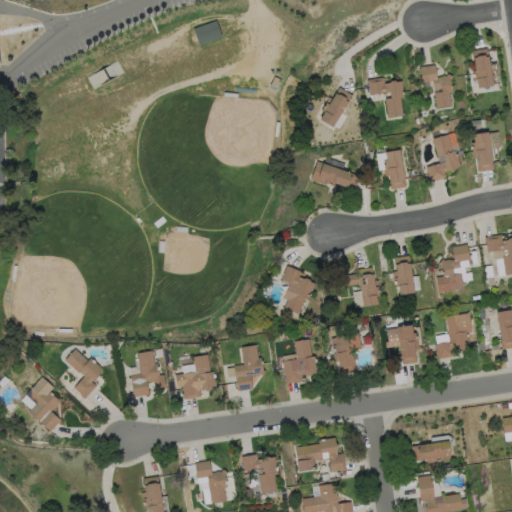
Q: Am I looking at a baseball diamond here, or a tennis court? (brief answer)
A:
baseball diamond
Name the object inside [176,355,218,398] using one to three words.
house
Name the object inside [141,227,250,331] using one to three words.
baseball field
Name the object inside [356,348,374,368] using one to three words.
swimming pool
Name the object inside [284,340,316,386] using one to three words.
house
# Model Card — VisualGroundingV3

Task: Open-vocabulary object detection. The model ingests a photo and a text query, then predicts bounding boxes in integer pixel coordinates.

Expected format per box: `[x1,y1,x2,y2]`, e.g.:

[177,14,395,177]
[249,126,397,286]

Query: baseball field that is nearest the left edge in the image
[4,190,154,332]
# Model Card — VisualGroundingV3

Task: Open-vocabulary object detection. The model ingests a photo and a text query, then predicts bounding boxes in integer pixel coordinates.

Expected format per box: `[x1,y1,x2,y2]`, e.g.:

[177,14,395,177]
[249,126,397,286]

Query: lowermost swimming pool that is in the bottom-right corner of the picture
[444,475,466,487]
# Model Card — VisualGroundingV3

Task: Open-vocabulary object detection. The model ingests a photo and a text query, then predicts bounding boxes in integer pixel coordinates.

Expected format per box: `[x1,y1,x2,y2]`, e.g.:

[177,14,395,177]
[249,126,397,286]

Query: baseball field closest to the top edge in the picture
[137,94,276,231]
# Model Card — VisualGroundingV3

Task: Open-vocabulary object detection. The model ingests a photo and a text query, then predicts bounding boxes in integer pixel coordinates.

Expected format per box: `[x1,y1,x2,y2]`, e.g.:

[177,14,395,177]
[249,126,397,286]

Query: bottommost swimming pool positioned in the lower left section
[0,386,20,406]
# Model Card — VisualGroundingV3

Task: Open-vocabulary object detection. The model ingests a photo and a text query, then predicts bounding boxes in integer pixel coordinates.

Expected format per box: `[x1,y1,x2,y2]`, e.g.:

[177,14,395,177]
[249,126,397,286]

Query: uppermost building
[195,20,222,44]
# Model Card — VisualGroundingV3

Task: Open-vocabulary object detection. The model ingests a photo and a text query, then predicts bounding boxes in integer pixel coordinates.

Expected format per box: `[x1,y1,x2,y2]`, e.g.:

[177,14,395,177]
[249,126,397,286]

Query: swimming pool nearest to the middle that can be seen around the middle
[266,282,283,304]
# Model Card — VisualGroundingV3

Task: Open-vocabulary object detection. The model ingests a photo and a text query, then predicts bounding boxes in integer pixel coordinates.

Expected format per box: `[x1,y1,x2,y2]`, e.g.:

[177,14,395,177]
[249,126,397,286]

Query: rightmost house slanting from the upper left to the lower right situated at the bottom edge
[410,474,468,512]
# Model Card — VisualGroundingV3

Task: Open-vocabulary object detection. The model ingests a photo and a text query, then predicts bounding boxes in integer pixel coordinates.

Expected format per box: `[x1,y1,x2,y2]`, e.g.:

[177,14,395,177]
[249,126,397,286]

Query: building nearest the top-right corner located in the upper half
[474,48,494,88]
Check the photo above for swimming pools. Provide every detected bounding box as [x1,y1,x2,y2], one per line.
[424,144,434,163]
[444,475,466,487]
[0,386,20,406]
[356,348,374,368]
[89,348,108,360]
[266,282,283,304]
